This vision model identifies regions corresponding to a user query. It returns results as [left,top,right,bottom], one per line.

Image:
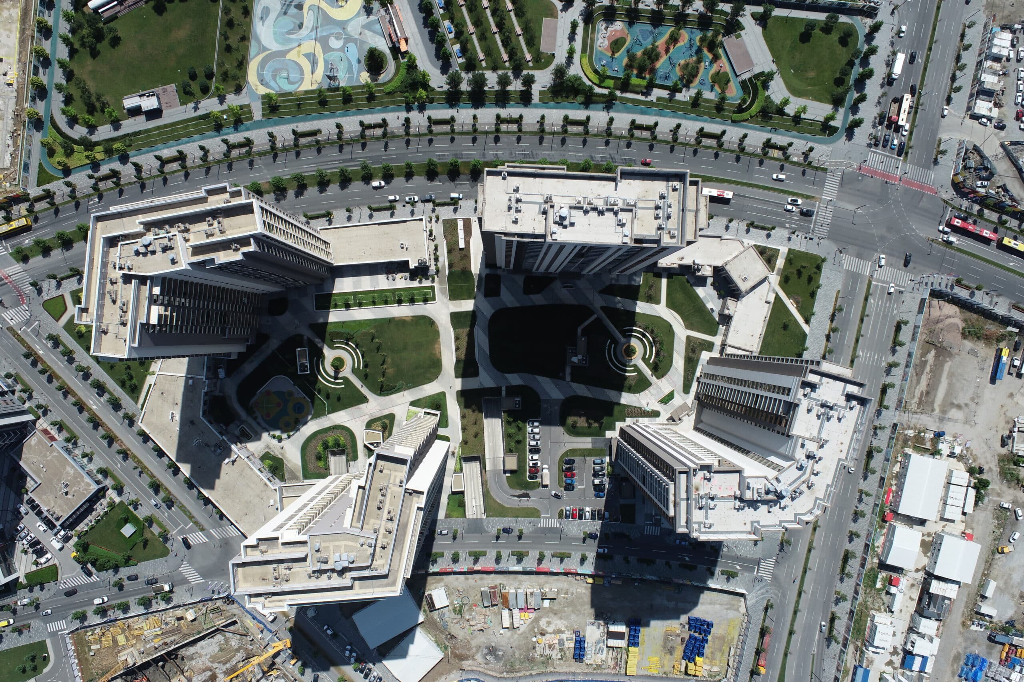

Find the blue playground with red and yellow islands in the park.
[594,19,742,102]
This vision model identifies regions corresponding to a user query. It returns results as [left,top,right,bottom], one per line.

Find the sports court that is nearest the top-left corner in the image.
[247,0,395,121]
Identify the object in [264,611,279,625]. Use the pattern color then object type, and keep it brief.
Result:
white vehicle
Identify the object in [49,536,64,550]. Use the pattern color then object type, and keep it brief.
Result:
white vehicle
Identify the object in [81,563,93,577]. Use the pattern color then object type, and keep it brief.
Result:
black vehicle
